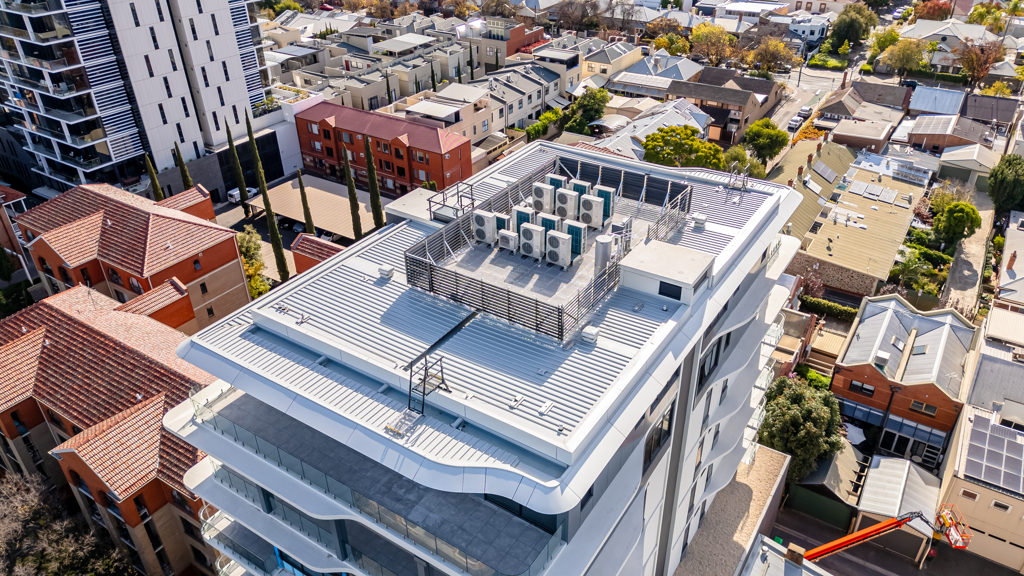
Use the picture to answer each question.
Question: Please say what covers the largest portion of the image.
buildings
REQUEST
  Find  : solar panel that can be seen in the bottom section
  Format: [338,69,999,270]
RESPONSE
[965,415,1024,498]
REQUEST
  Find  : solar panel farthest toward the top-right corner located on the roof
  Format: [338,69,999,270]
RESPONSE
[910,116,955,137]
